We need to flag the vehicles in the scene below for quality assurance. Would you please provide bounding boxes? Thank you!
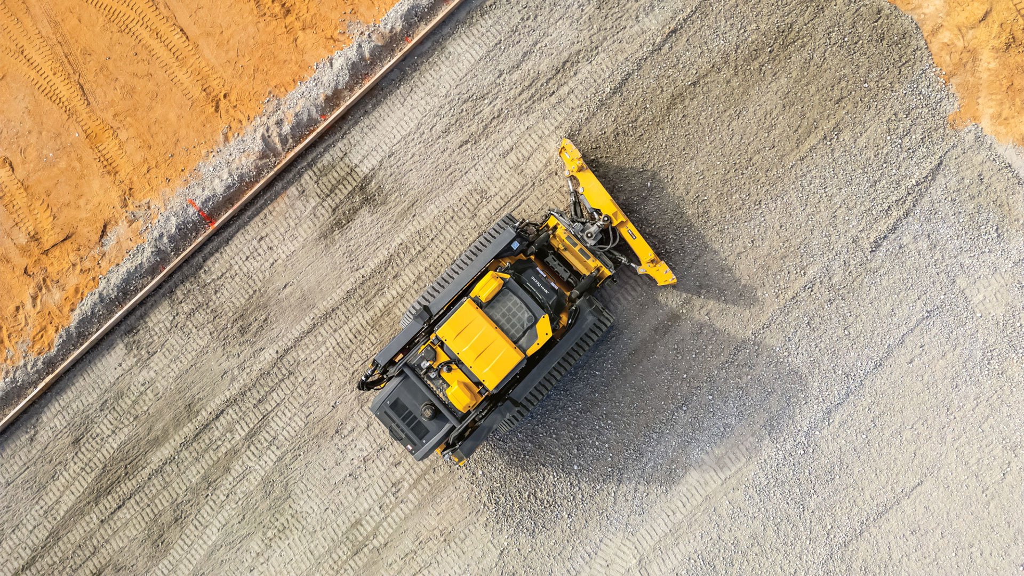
[359,139,677,463]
